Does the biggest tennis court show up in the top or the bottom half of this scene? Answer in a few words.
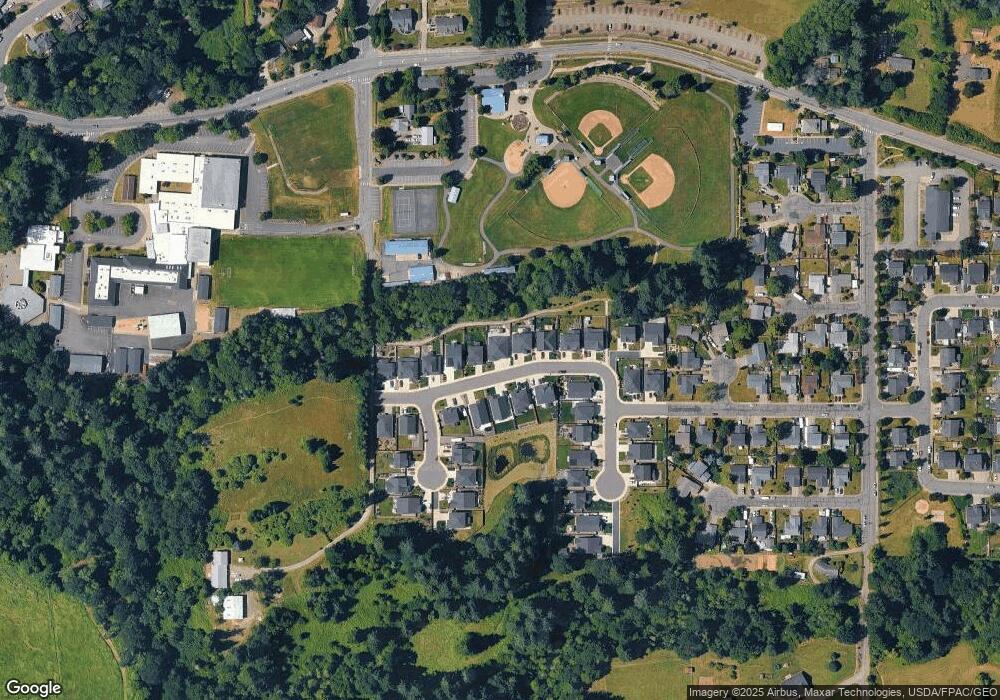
top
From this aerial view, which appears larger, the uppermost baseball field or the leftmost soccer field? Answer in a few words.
the soccer field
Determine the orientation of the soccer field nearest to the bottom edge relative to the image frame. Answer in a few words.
from side to side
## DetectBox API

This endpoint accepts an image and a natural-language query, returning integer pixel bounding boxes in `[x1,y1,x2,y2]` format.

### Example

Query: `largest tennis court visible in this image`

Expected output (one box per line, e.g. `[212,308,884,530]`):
[392,188,438,234]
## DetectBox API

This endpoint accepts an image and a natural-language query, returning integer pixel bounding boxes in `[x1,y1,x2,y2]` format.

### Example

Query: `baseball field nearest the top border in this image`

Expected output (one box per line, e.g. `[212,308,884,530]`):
[546,82,658,160]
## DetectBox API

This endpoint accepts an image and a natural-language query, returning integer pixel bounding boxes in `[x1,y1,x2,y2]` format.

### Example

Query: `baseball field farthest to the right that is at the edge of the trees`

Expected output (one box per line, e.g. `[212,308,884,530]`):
[620,127,700,227]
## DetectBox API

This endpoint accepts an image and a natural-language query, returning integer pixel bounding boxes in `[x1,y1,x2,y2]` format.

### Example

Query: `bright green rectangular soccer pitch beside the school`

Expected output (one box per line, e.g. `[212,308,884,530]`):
[216,233,361,309]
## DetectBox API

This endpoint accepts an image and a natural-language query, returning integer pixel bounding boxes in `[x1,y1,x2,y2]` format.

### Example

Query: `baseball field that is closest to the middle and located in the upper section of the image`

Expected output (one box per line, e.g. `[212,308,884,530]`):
[508,160,622,242]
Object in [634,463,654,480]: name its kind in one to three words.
house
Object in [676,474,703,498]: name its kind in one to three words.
house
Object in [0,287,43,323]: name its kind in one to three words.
building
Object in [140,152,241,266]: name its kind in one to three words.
building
